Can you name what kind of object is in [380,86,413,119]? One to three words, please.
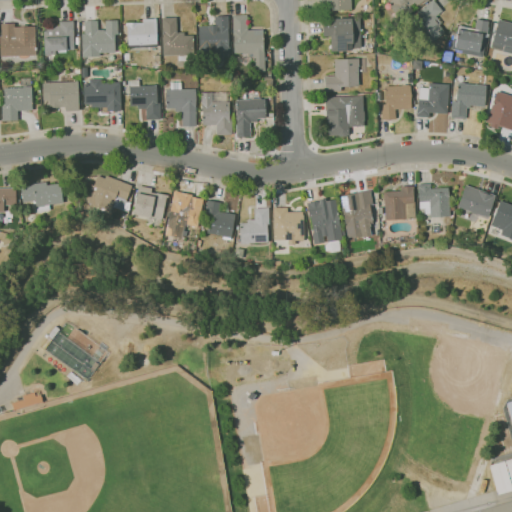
house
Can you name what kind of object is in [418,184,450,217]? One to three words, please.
house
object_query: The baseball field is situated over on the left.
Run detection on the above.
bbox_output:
[0,367,232,512]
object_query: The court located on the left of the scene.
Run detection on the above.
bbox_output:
[44,321,108,380]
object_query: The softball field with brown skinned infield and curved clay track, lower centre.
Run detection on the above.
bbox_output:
[257,360,398,512]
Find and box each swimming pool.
[92,68,110,78]
[390,222,412,233]
[391,60,402,70]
